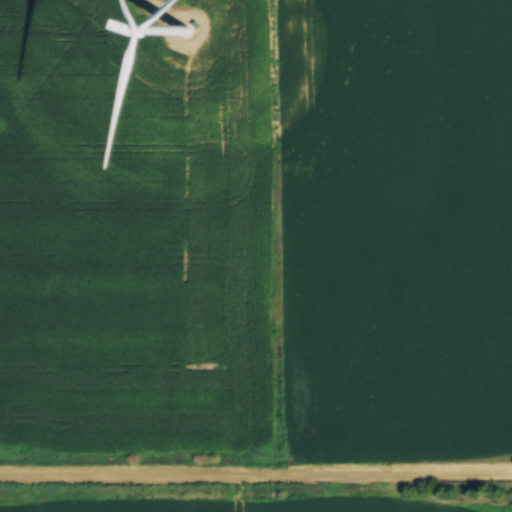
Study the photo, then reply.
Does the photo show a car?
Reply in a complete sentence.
No, this view has no car in it.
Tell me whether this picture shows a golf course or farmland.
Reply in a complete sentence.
The picture captures farmland.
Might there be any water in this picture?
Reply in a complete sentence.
No, there's no water in this view.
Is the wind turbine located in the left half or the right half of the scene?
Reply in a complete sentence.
The wind turbine sits on the left side.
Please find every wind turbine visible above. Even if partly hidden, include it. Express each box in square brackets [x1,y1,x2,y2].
[104,0,196,168]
